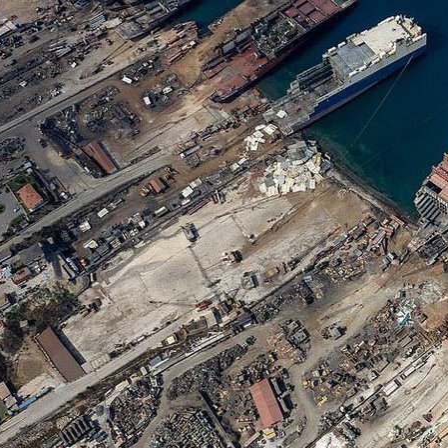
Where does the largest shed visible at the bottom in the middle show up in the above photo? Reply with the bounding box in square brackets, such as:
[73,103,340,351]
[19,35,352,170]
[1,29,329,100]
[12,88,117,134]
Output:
[250,381,283,427]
